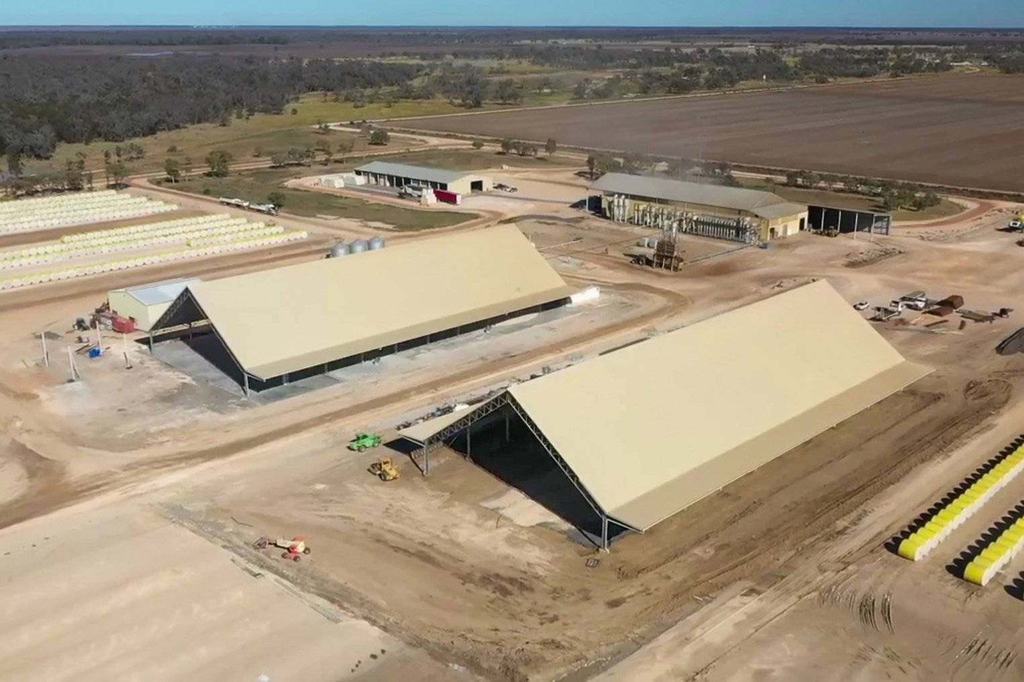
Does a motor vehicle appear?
Yes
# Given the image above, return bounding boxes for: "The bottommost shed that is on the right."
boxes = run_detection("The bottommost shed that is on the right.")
[395,280,940,555]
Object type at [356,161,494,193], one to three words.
shed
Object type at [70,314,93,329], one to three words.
work vehicle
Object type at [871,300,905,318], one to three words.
vehicle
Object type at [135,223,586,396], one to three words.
shed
